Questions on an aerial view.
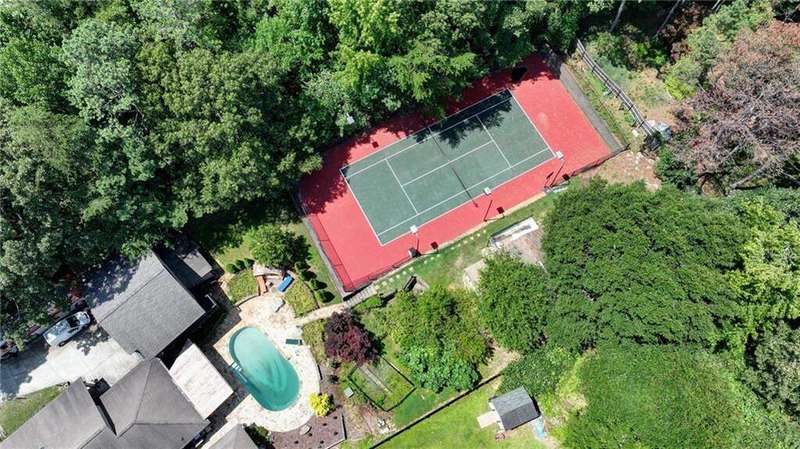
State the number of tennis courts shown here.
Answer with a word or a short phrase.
1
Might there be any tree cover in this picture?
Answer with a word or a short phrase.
Yes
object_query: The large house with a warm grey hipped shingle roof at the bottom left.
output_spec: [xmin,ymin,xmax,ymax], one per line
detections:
[0,357,212,449]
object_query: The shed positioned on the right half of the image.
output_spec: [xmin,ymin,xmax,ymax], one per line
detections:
[491,387,540,430]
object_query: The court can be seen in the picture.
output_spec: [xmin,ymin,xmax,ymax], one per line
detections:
[280,41,618,292]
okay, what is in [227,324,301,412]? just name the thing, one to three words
swimming pool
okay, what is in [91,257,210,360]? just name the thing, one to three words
building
